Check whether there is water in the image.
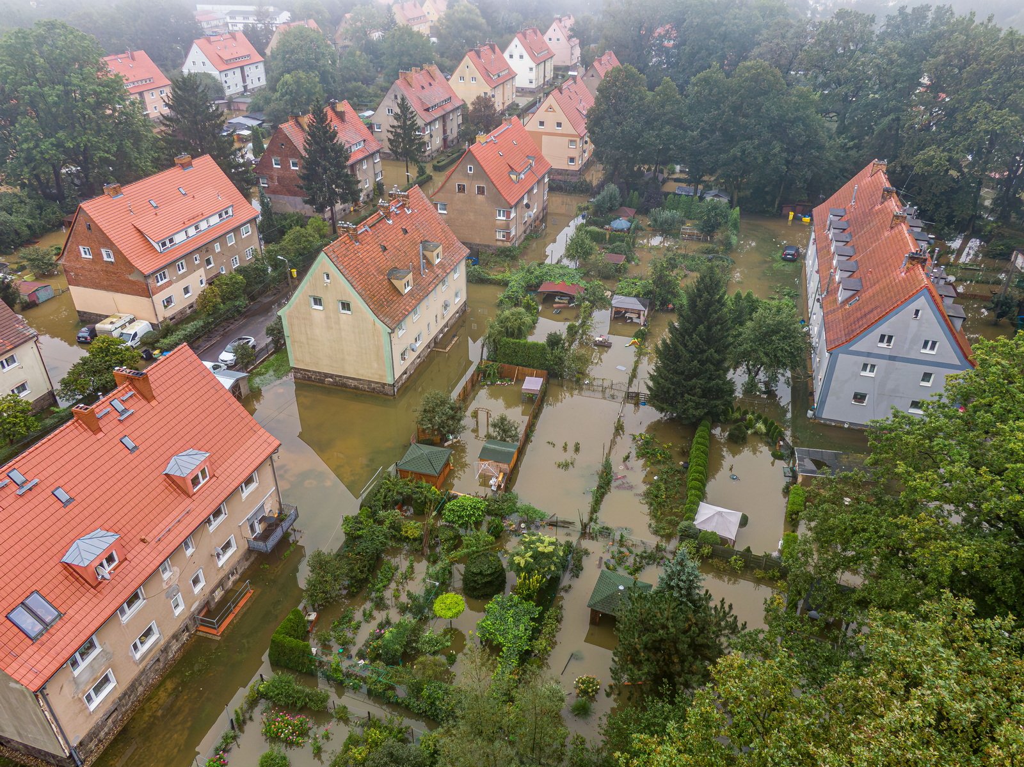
Yes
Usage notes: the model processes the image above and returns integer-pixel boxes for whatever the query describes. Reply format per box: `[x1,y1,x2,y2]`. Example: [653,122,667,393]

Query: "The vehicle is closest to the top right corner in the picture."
[783,245,802,262]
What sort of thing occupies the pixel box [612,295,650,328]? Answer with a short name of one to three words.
gazebo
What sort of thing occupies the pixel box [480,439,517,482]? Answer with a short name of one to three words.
shed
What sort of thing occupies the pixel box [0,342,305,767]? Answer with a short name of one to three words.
house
